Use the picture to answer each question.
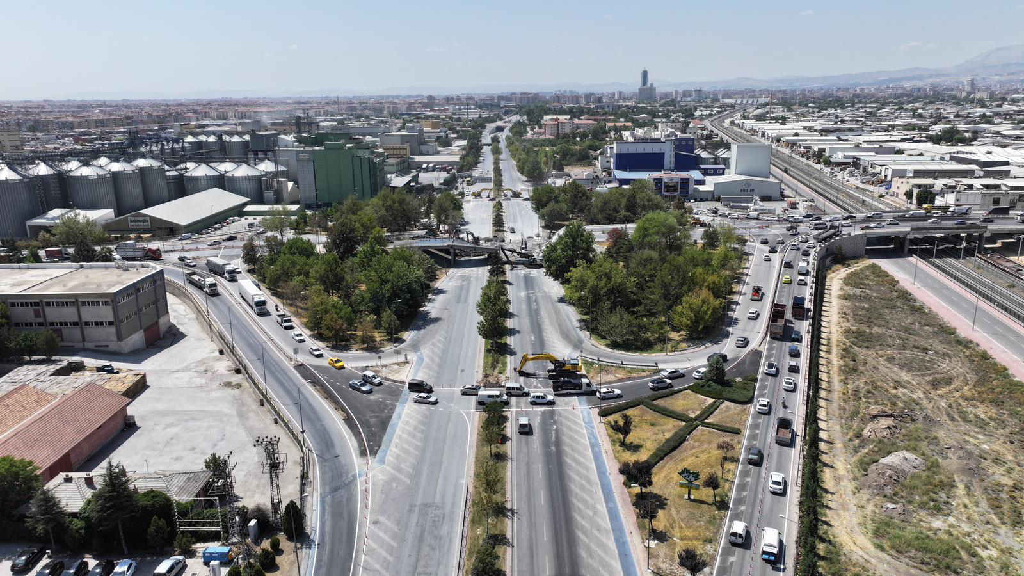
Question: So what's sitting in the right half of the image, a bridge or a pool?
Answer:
bridge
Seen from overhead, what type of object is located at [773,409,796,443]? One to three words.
truck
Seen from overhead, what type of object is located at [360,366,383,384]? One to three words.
vehicle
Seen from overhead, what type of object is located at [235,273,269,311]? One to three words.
truck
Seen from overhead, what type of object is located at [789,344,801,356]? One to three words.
vehicle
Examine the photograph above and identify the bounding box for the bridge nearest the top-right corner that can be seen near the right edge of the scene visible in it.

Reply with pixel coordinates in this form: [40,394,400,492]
[846,211,1024,256]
